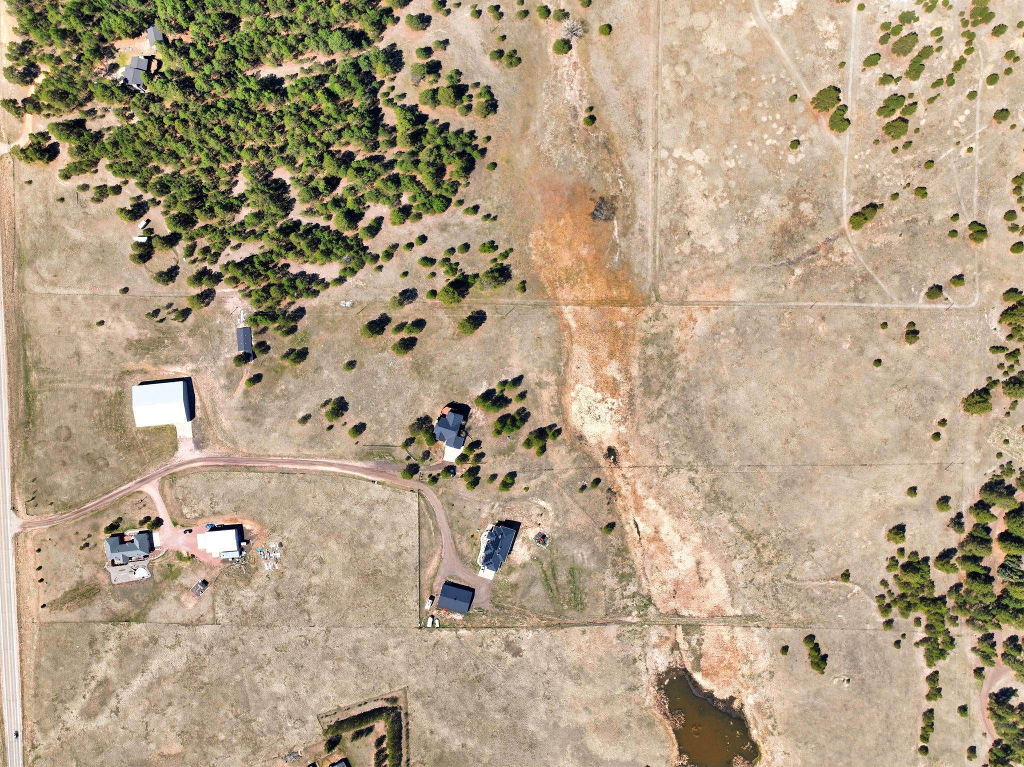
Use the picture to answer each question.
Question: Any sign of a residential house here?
Yes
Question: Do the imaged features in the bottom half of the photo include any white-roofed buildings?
Yes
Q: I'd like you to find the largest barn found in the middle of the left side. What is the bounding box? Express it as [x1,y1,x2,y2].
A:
[132,381,191,427]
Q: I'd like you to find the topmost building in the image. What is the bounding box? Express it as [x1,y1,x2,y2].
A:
[147,26,165,48]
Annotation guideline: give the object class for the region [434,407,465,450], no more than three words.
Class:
house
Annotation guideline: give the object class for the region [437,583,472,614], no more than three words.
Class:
building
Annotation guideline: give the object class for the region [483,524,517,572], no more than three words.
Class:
house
